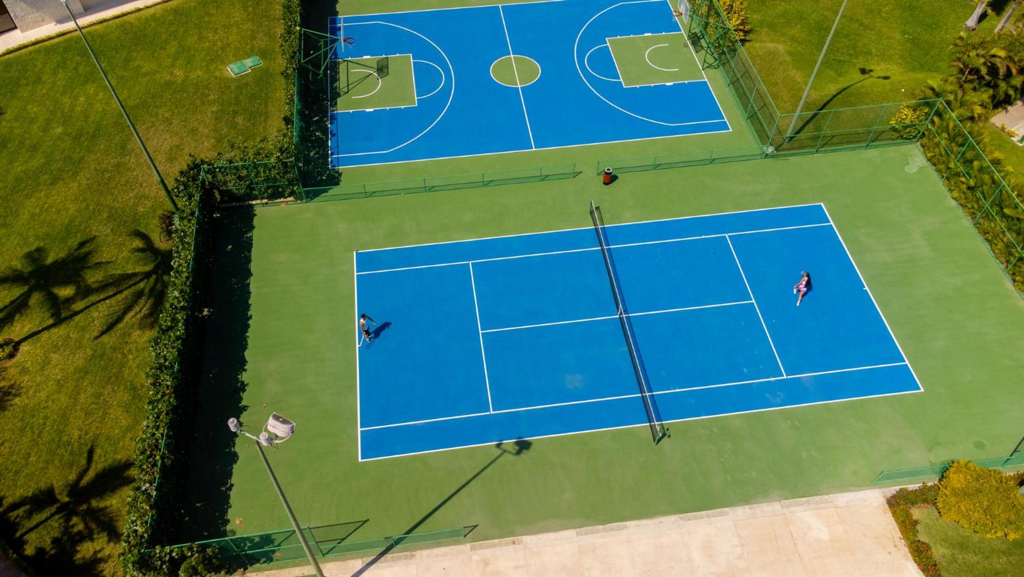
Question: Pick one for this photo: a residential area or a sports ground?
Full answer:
The area seen from above is a sports ground.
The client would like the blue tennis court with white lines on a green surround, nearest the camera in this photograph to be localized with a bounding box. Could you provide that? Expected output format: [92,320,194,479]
[174,144,1024,570]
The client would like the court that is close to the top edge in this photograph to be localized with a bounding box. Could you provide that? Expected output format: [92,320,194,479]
[302,0,763,200]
